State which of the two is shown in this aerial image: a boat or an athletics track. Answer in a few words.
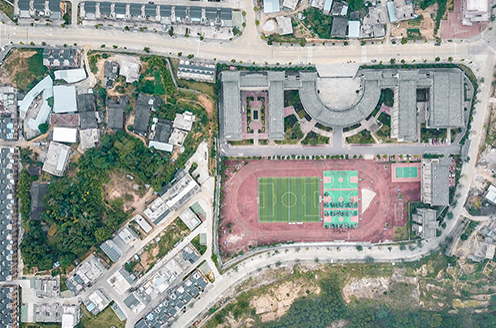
athletics track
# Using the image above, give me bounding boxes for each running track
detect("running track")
[230,160,388,239]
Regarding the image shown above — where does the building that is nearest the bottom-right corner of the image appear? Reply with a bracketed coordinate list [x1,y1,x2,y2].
[471,241,495,259]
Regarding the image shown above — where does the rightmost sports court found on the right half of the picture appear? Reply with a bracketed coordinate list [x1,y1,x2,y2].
[392,163,418,182]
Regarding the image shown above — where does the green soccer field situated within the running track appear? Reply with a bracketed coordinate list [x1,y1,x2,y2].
[258,176,321,223]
